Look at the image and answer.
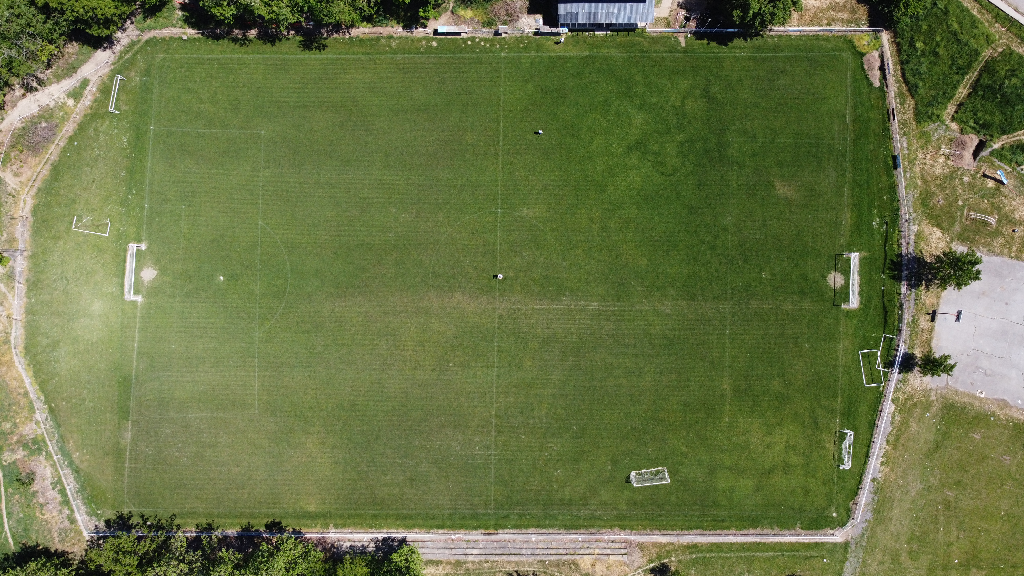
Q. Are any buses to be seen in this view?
No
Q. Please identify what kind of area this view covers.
sports ground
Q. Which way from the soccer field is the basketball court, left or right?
on its right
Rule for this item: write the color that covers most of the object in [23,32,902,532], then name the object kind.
green soccer field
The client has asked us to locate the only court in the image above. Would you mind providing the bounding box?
[929,247,1024,406]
